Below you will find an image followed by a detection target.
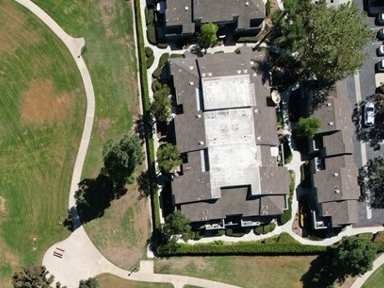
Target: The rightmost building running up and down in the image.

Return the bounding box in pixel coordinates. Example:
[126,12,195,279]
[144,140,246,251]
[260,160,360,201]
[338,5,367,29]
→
[302,77,360,227]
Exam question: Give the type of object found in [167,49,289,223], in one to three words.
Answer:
building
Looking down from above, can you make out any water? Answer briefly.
No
